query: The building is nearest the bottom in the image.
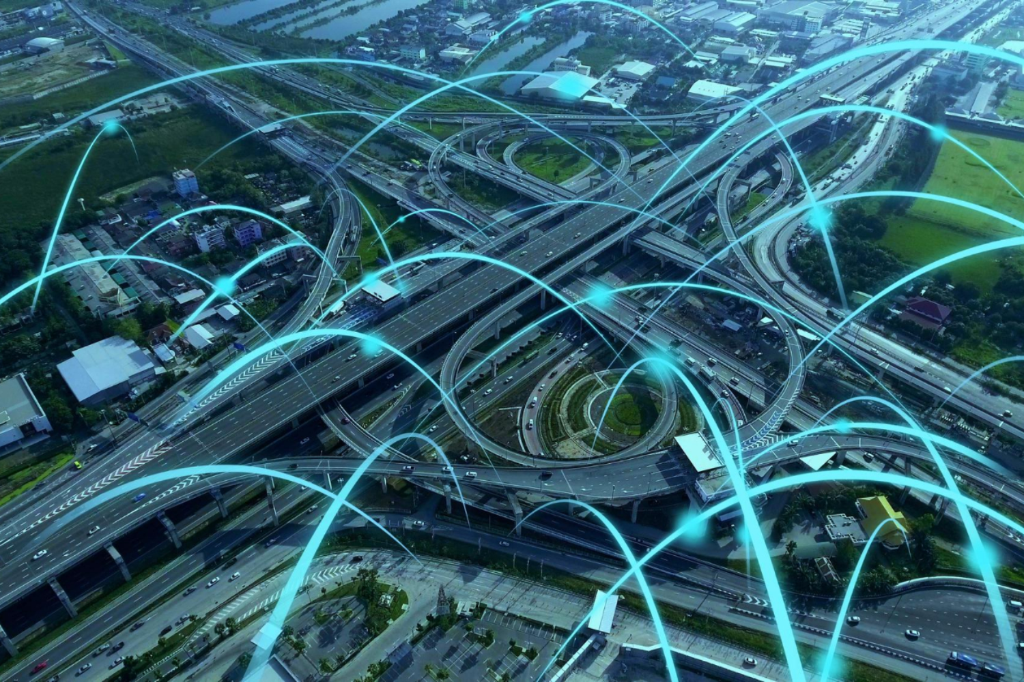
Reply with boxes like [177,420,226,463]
[233,654,303,682]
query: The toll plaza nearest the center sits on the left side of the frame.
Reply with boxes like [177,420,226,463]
[362,281,402,309]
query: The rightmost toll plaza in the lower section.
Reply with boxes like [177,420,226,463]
[674,432,724,479]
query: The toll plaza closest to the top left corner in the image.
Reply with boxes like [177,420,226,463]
[258,124,286,141]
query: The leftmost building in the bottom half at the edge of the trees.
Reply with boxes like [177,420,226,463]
[0,371,52,468]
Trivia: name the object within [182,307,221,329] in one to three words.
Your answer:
shed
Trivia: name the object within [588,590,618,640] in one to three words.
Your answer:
toll station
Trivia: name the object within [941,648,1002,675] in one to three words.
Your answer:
truck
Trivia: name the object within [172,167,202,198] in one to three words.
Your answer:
building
